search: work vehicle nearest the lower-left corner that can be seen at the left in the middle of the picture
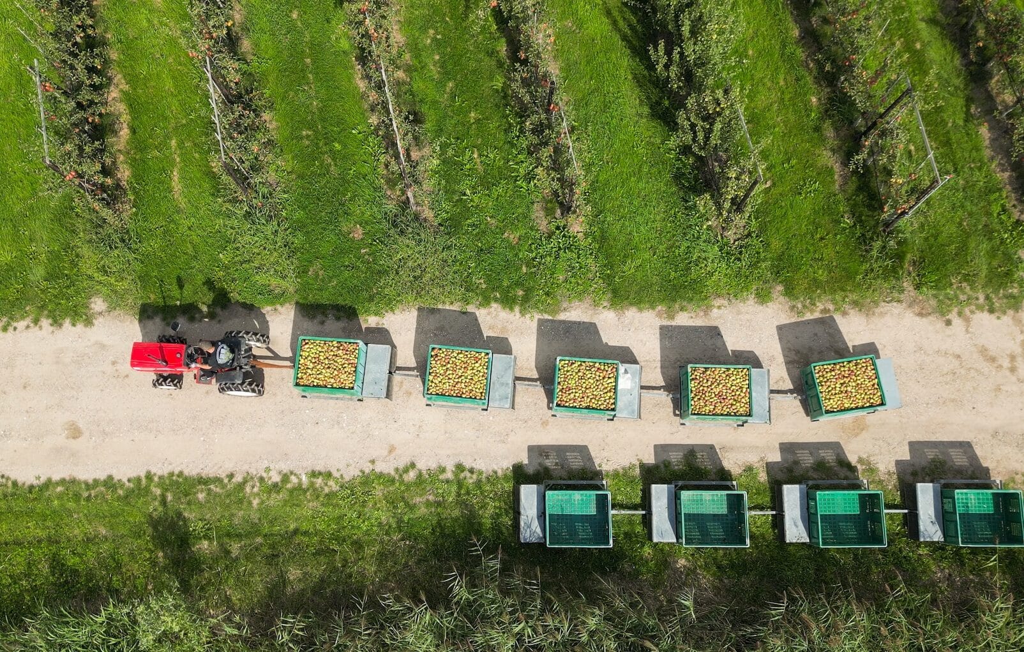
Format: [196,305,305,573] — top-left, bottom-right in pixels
[131,322,273,397]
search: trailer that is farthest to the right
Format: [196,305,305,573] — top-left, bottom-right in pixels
[899,480,1001,544]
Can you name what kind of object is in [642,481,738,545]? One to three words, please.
trailer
